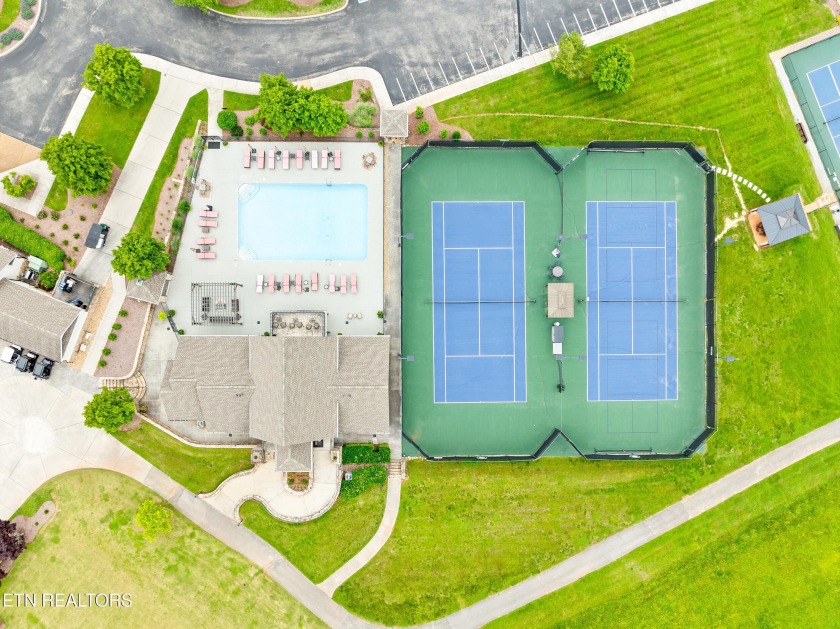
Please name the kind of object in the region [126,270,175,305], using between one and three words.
building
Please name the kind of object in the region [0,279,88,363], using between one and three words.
barn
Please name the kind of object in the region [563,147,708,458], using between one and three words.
tennis court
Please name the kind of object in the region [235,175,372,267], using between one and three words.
swimming pool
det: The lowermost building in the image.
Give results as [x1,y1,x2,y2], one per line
[160,335,390,473]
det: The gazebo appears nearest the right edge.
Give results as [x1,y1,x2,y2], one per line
[747,194,810,247]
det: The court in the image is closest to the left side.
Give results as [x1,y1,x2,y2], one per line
[403,147,563,458]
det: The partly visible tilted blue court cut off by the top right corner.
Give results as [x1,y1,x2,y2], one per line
[783,34,840,222]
